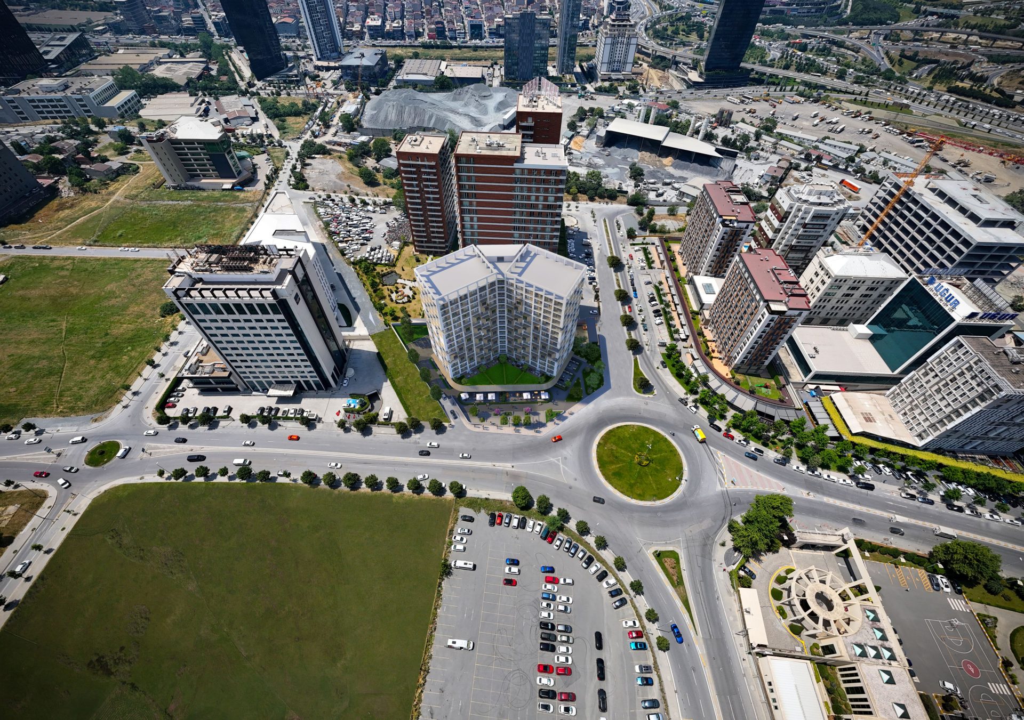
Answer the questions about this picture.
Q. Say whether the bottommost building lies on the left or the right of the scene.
right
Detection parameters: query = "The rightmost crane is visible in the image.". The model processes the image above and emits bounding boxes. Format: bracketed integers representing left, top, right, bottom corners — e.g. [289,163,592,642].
[855,124,1024,248]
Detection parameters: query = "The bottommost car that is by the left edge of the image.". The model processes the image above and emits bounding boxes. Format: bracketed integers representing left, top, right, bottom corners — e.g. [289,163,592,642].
[18,559,31,573]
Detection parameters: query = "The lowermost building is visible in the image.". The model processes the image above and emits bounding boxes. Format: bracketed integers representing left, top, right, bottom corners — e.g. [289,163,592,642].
[749,659,828,720]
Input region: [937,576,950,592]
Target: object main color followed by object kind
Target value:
white vehicle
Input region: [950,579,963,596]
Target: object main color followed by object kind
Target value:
black vehicle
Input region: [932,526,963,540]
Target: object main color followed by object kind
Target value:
white vehicle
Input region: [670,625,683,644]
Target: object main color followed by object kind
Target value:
blue vehicle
